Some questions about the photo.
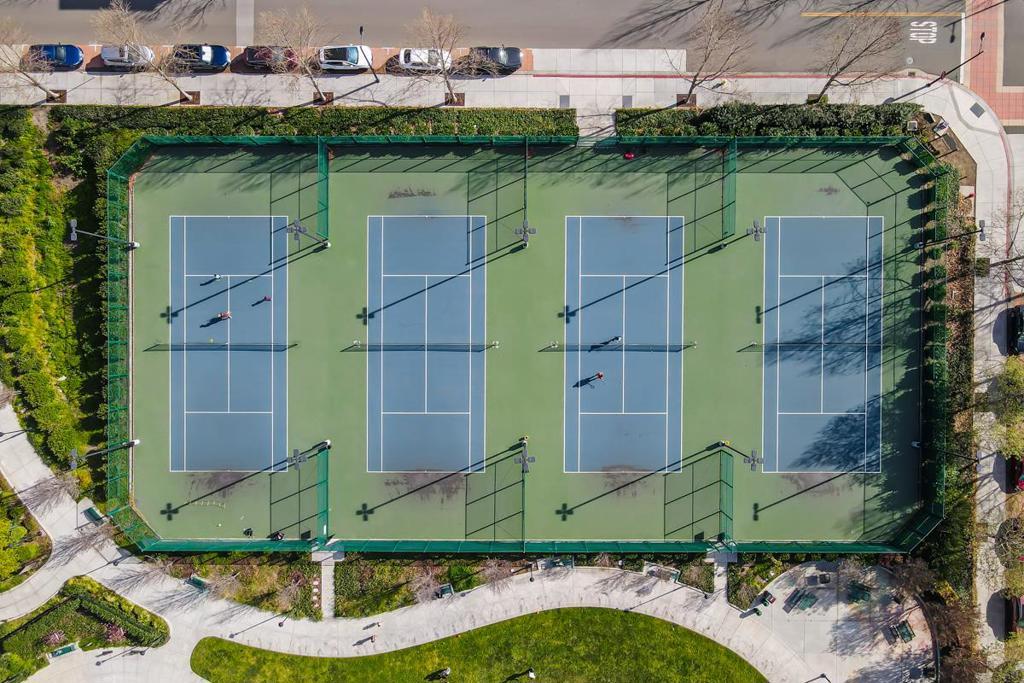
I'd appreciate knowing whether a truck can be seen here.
No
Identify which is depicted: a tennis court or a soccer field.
tennis court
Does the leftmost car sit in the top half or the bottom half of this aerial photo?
top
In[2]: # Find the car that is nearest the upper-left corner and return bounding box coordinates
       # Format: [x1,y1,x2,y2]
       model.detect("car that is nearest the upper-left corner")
[30,44,83,69]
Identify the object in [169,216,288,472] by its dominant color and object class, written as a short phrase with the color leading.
blue tennis court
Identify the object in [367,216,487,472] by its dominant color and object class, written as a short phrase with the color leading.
blue tennis court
